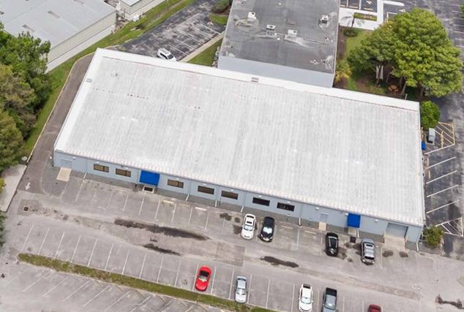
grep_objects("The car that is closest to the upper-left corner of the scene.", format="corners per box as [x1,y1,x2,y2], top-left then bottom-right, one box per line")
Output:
[154,45,177,59]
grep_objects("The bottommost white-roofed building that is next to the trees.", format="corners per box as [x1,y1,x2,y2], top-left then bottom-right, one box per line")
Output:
[54,46,423,242]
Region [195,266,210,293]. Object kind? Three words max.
car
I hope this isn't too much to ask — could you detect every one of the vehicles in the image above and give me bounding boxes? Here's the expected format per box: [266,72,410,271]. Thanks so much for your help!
[297,283,312,312]
[325,231,339,258]
[233,275,248,305]
[360,239,375,266]
[367,303,381,312]
[321,286,337,312]
[241,213,256,240]
[259,215,274,242]
[195,266,210,293]
[154,45,177,59]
